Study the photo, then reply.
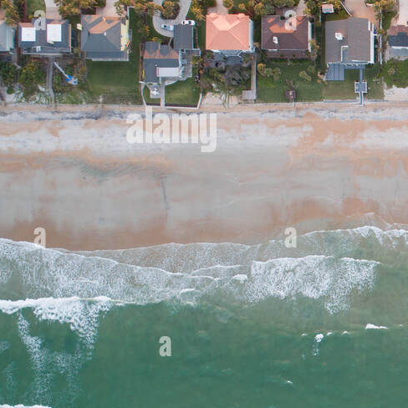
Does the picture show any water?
Yes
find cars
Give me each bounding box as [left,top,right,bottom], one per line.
[159,21,172,29]
[182,19,194,24]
